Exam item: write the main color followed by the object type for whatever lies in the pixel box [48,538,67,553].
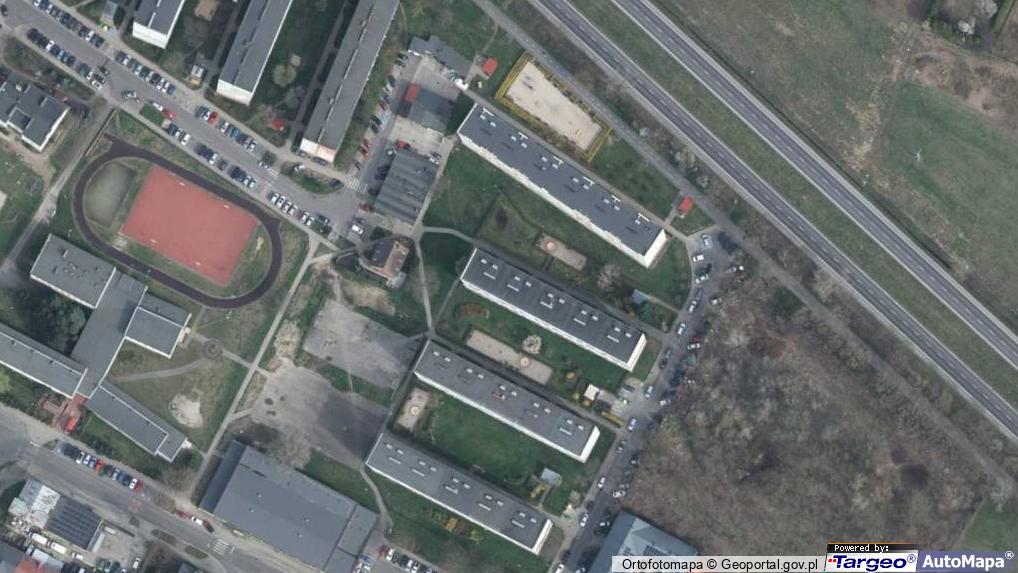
white vehicle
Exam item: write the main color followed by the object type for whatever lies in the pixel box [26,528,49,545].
white vehicle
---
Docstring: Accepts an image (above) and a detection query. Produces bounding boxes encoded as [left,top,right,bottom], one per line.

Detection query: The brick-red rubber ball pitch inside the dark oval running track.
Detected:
[118,163,261,287]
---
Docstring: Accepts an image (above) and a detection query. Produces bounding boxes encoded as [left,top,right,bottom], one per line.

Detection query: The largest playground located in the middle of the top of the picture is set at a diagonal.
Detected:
[508,62,600,150]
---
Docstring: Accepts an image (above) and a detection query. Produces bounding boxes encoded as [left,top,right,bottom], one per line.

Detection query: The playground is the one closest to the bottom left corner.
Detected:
[397,387,428,431]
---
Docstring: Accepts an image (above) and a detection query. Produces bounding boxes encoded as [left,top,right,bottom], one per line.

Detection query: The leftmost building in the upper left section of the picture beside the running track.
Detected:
[0,67,72,154]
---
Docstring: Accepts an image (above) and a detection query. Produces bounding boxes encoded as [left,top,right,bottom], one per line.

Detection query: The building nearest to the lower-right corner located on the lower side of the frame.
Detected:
[588,512,698,573]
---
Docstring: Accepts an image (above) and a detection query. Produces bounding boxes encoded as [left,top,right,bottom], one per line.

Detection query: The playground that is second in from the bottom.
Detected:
[468,330,553,385]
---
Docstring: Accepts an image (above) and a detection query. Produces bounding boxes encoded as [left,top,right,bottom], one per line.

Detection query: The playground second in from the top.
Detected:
[539,233,587,271]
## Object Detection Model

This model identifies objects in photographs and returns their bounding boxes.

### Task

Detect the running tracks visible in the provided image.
[74,133,283,309]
